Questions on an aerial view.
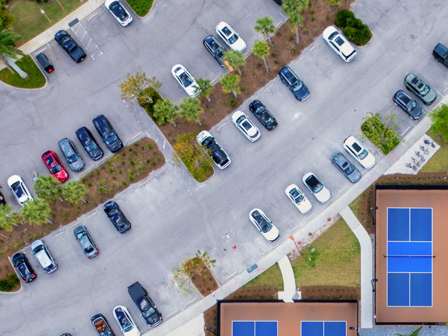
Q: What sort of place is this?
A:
parking lot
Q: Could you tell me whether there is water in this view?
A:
No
